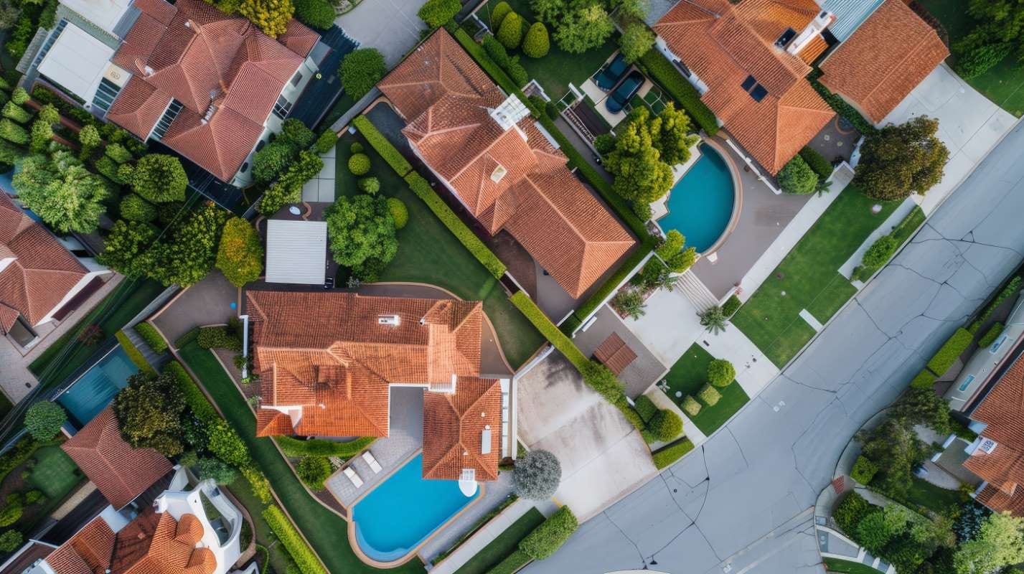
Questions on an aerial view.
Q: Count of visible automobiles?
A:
2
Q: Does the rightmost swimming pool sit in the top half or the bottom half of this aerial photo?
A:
top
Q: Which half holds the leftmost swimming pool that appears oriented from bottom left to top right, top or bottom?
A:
bottom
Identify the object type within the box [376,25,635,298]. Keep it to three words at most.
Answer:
house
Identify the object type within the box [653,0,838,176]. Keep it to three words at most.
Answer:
house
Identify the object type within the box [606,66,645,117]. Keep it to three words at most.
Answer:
car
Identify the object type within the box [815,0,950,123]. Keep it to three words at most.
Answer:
building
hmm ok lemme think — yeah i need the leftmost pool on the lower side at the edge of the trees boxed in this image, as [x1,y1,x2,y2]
[57,346,144,427]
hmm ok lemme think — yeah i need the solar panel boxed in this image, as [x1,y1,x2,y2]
[972,433,998,456]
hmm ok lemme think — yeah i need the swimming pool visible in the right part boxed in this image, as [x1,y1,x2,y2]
[655,134,744,263]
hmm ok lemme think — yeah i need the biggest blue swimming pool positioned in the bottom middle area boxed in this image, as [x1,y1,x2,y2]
[347,448,485,566]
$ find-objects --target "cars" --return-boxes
[595,44,633,92]
[606,66,645,117]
